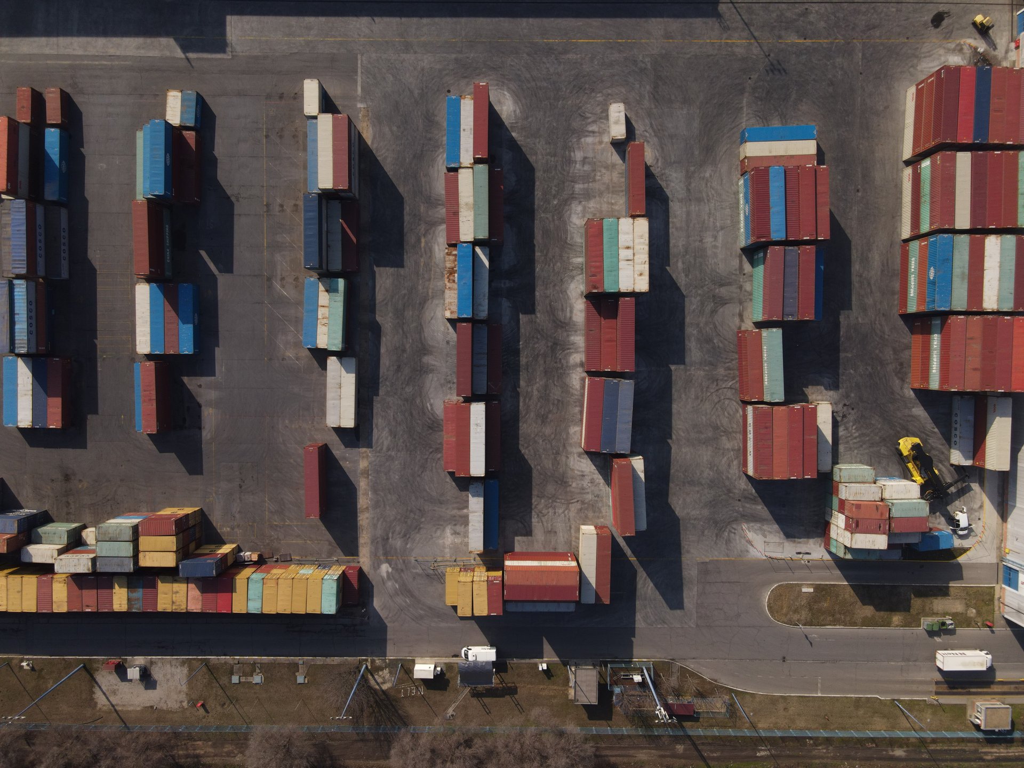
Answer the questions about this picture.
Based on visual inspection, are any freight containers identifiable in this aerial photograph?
Yes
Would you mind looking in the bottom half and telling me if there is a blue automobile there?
No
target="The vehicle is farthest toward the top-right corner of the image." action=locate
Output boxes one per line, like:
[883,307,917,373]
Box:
[977,13,1003,37]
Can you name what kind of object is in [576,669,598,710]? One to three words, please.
shed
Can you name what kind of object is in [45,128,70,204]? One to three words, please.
shipping container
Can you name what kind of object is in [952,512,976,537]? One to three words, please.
car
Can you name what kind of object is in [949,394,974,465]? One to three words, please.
shipping container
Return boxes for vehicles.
[952,512,976,537]
[462,642,496,658]
[900,438,964,501]
[934,647,989,669]
[977,13,1003,37]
